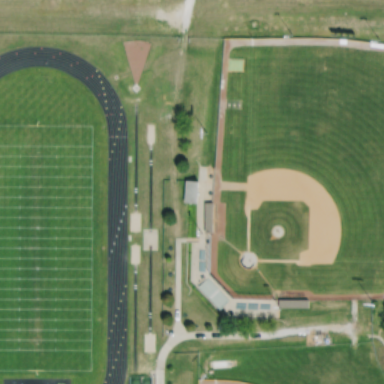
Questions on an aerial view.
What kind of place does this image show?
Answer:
sports ground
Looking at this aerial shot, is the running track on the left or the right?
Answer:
left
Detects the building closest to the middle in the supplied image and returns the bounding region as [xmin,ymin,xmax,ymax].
[184,182,198,206]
